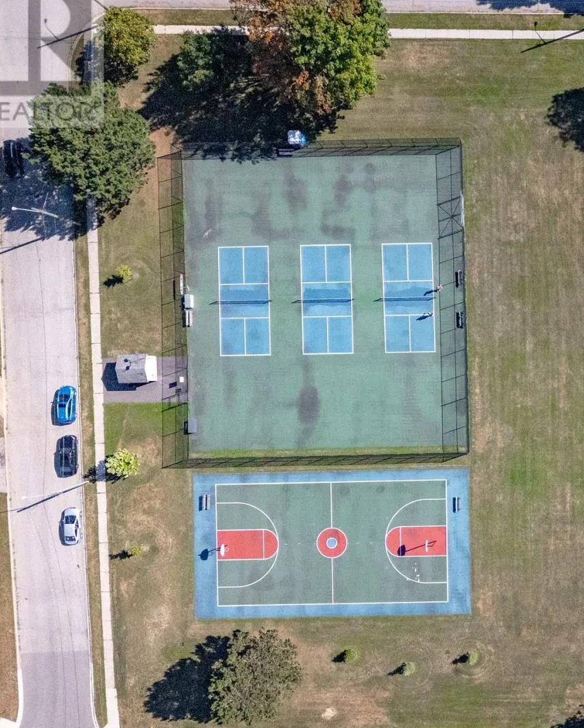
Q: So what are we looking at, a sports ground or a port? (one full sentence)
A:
The picture captures a sports ground.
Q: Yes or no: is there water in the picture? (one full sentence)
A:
No, the picture contains no water.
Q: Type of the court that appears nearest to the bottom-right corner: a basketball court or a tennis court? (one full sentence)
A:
The court that appears nearest to the bottom-right corner can be classified as a basketball court.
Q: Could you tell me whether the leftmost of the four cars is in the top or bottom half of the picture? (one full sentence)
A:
It is in the top half that the leftmost of the four cars appears.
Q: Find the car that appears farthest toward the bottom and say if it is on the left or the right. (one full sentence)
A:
You can find the car that appears farthest toward the bottom on the left side of the picture.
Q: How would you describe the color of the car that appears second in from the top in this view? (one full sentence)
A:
In this view, the car that appears second in from the top is blue.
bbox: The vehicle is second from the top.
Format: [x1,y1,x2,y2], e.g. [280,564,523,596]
[55,386,77,425]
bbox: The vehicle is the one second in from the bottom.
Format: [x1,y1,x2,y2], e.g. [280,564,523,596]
[56,437,79,476]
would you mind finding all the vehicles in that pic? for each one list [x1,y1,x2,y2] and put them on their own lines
[55,386,77,425]
[61,507,82,546]
[56,437,79,476]
[0,136,22,177]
